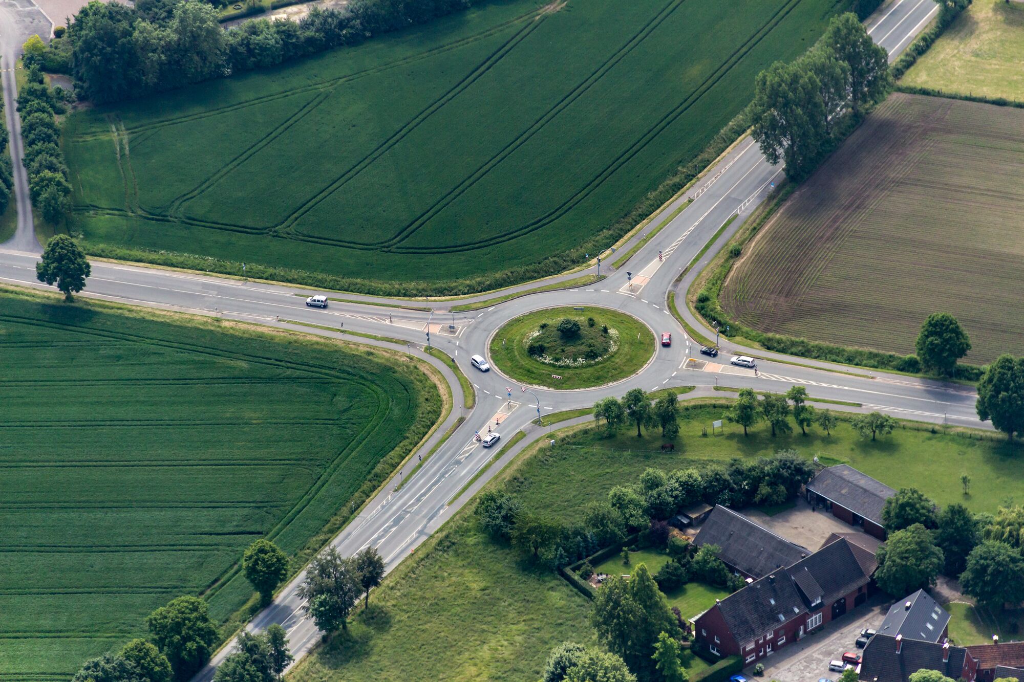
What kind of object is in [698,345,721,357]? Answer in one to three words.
vehicle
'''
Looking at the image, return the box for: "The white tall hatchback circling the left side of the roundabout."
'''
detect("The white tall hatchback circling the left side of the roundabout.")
[471,355,489,372]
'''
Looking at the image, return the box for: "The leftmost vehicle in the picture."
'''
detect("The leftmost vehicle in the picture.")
[306,297,328,309]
